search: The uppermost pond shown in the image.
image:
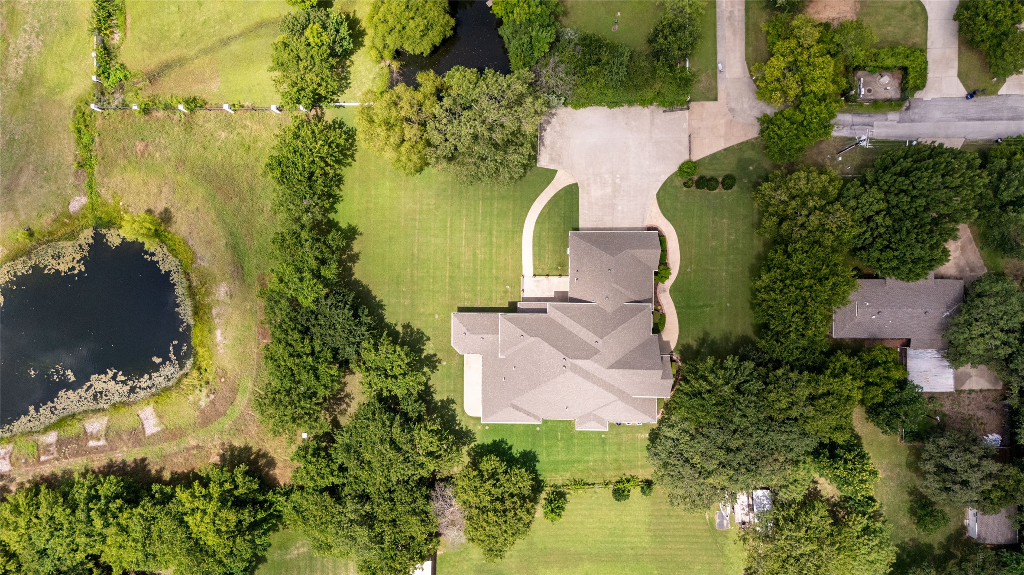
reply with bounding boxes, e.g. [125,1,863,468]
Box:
[387,0,519,100]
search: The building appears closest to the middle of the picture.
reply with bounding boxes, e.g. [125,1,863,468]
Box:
[451,231,679,431]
